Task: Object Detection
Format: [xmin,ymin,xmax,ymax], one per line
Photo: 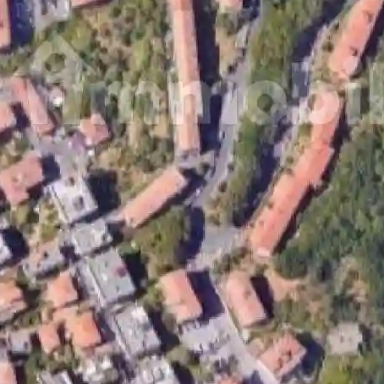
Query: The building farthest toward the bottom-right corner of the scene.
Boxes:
[328,321,362,356]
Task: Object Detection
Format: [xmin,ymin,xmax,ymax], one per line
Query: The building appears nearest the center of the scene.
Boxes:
[122,167,188,227]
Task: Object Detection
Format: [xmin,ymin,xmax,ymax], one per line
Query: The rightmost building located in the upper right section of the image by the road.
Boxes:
[329,0,384,81]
